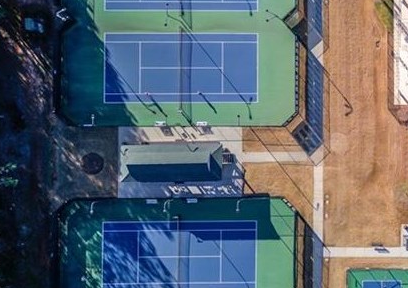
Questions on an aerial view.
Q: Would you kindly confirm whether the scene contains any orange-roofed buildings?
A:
No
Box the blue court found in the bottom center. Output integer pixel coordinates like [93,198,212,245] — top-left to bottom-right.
[57,199,295,288]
